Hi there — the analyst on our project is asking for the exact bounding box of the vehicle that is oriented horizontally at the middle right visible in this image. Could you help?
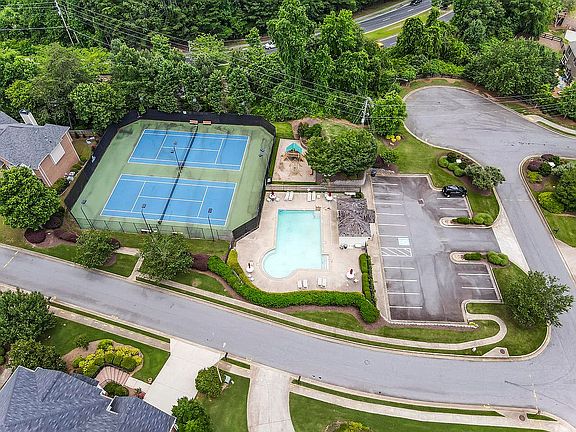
[443,184,469,198]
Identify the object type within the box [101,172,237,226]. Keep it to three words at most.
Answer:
tennis court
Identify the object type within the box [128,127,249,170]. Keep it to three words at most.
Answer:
tennis court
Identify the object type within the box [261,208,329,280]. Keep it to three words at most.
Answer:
swimming pool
